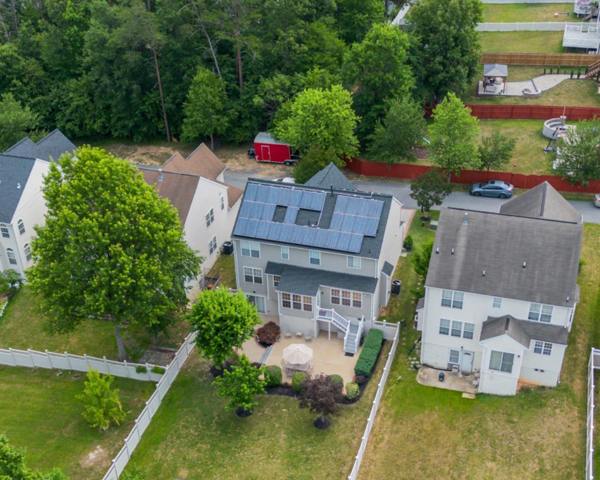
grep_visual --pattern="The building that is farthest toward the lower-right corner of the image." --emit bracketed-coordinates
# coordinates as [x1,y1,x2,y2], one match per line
[414,181,585,395]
